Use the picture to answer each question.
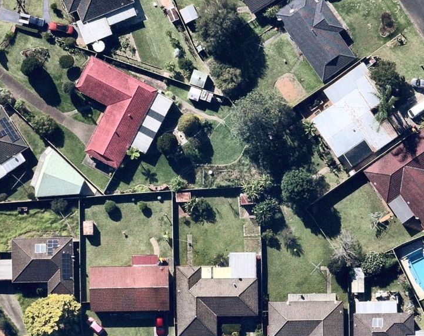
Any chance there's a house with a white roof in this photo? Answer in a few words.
Yes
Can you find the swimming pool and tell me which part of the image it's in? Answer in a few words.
bottom right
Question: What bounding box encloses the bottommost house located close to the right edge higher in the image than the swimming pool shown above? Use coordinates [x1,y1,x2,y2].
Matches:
[364,132,424,231]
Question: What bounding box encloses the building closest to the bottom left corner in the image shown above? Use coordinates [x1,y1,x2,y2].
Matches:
[0,237,75,296]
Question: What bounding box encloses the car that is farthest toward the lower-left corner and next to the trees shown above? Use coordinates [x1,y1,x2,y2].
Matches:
[86,315,105,334]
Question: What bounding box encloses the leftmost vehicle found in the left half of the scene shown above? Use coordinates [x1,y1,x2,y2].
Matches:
[19,14,45,28]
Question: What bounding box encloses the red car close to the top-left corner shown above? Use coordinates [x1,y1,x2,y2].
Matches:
[49,21,74,35]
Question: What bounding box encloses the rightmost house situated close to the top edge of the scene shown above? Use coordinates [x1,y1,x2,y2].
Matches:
[277,0,355,83]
